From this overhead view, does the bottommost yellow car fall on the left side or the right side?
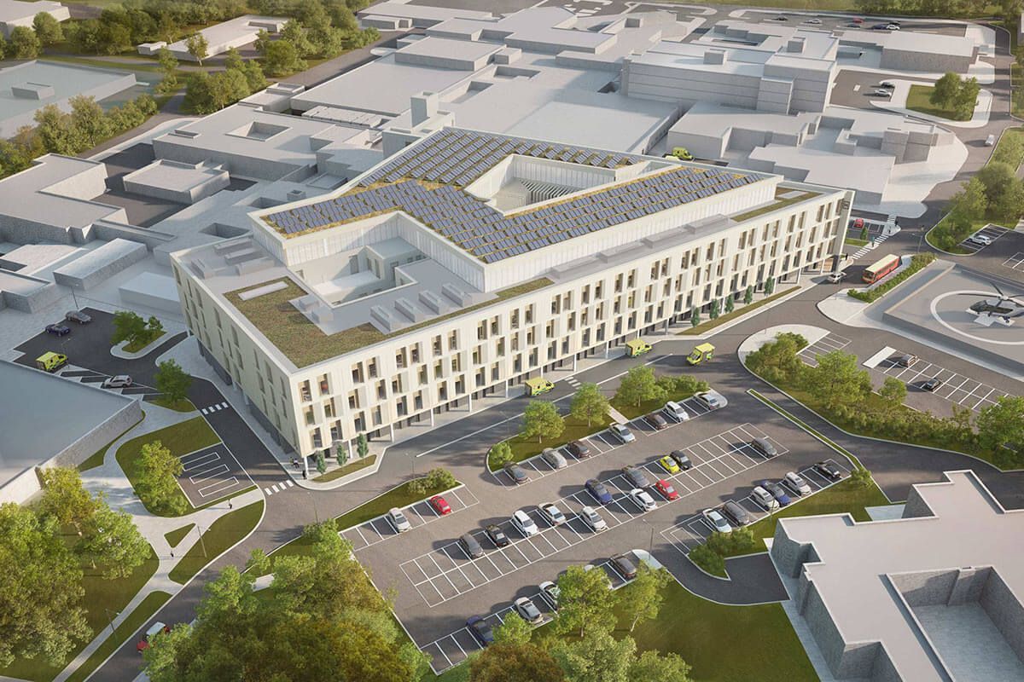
right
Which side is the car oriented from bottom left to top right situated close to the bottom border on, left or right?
left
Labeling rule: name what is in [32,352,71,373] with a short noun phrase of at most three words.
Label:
vehicle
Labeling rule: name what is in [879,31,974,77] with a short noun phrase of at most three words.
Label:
building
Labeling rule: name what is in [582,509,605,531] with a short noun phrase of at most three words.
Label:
car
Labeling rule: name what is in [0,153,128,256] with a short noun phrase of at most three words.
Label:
building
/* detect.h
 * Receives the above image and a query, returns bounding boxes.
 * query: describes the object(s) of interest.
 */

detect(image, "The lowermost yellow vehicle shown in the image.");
[658,455,680,475]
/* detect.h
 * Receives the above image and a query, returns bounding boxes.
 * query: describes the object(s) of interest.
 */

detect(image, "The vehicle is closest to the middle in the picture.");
[521,377,555,399]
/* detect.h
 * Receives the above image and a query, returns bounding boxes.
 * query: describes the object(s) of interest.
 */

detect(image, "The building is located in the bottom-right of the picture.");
[773,471,1024,682]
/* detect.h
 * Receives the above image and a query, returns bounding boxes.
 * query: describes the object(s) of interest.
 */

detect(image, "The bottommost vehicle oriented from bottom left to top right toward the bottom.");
[138,618,170,651]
